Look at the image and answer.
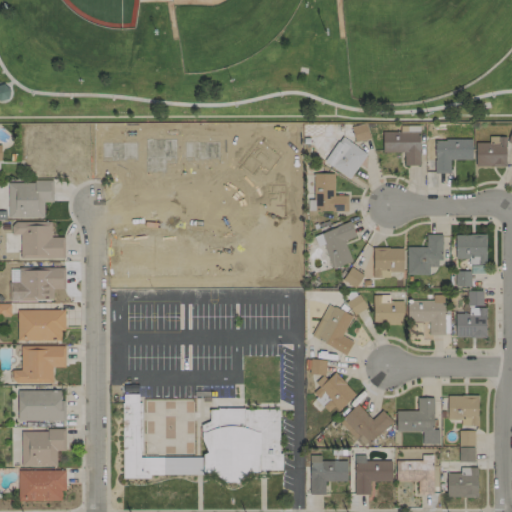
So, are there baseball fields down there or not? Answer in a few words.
Yes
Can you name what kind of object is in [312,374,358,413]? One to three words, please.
house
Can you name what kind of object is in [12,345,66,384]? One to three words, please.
house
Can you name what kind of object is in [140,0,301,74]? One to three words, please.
baseball field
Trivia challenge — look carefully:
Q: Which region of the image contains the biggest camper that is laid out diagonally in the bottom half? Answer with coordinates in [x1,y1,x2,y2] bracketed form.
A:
[350,390,369,409]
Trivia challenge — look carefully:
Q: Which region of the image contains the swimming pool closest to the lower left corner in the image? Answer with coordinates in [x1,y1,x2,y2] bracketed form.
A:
[0,472,18,490]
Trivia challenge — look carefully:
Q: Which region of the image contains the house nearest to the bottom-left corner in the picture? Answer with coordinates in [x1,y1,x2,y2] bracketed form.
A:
[19,469,67,502]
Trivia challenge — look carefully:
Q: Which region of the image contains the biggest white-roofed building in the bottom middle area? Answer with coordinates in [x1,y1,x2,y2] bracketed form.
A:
[124,384,284,486]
